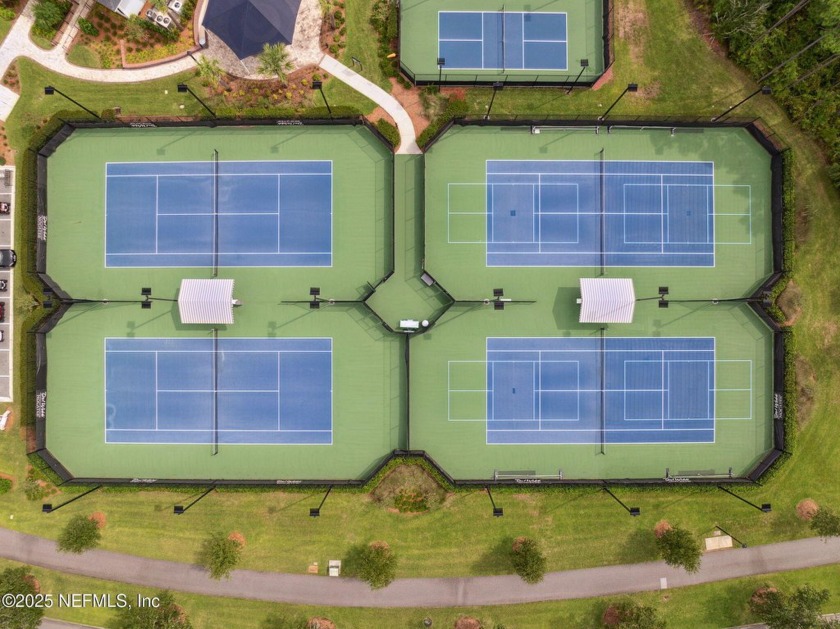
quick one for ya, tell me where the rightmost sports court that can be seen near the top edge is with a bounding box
[401,0,605,86]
